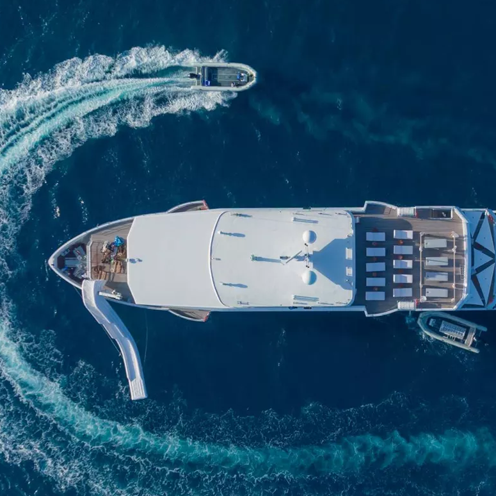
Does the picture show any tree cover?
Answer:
No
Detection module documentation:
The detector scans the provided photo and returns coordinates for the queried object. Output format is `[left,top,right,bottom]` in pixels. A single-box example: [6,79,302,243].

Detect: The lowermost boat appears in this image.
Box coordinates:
[418,312,488,353]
